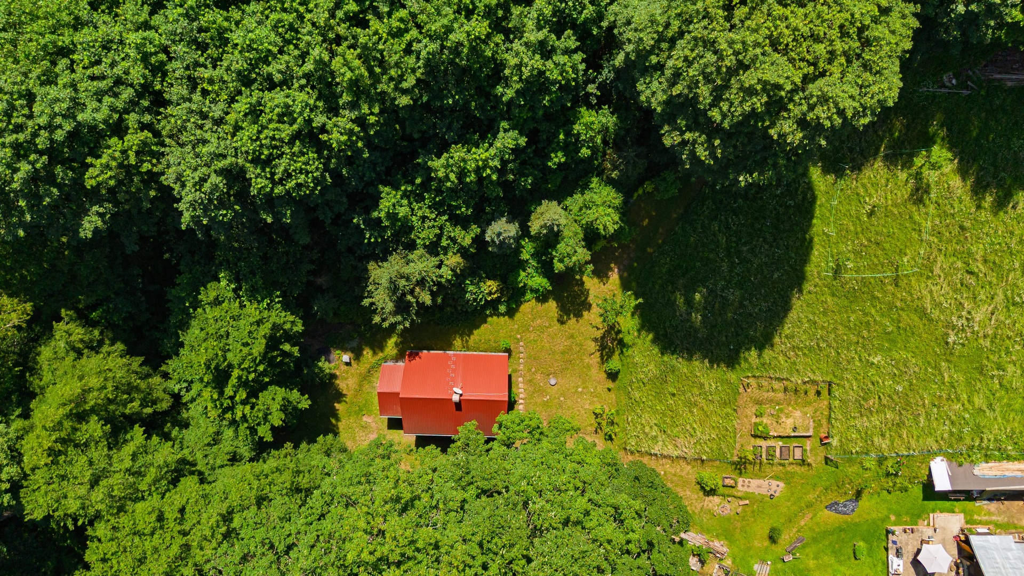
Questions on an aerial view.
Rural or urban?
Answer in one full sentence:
The area is rural.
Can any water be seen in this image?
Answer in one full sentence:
No, water can't be seen anywhere here.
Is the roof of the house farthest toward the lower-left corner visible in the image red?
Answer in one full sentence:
Yes, red is the color of the roof of the house farthest toward the lower-left corner.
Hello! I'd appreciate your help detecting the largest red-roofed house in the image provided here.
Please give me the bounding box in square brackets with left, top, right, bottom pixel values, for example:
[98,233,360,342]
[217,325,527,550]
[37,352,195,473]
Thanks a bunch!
[378,350,510,438]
